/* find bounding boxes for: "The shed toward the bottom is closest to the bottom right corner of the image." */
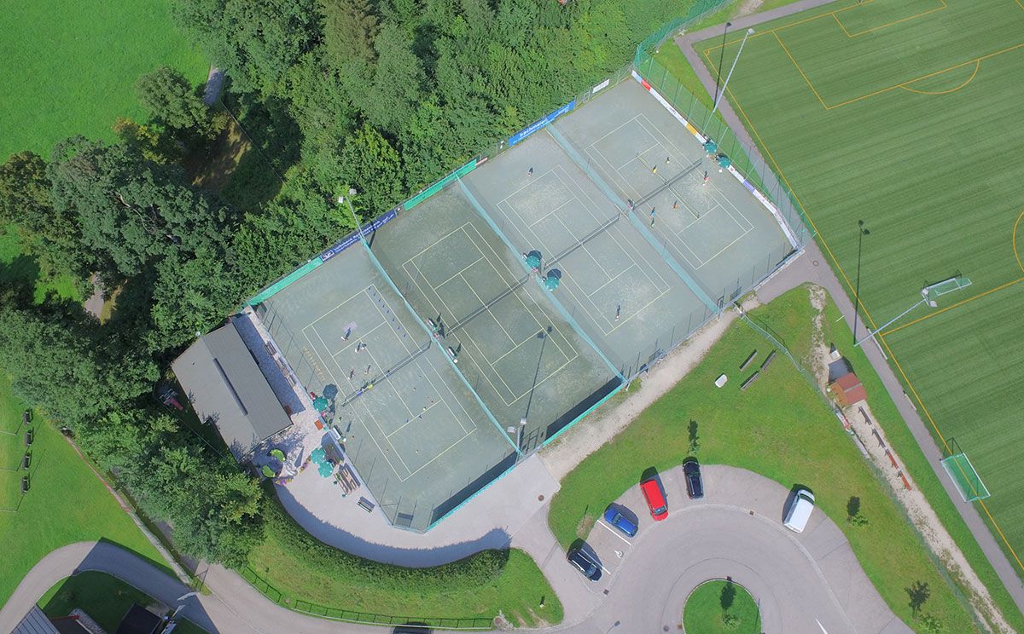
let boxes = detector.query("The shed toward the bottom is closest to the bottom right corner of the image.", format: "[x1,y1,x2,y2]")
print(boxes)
[824,373,867,408]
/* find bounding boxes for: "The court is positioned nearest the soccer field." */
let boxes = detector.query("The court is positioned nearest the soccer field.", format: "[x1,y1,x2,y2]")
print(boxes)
[553,75,798,308]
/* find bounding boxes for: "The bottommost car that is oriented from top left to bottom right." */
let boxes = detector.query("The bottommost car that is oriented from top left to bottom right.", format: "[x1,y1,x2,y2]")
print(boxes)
[566,543,606,582]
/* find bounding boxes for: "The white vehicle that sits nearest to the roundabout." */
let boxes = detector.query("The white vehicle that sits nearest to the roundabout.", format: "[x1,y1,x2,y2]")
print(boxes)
[781,490,816,537]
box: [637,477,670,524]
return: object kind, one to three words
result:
vehicle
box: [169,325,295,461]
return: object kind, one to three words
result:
building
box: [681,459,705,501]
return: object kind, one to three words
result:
car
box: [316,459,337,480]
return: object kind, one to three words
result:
umbrella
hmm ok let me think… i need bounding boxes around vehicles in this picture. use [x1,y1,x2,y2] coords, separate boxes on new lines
[637,477,670,524]
[566,543,606,582]
[781,490,816,537]
[681,459,705,501]
[602,505,639,538]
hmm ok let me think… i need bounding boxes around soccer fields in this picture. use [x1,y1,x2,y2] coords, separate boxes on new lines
[685,0,1024,584]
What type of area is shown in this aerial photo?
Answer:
sports ground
